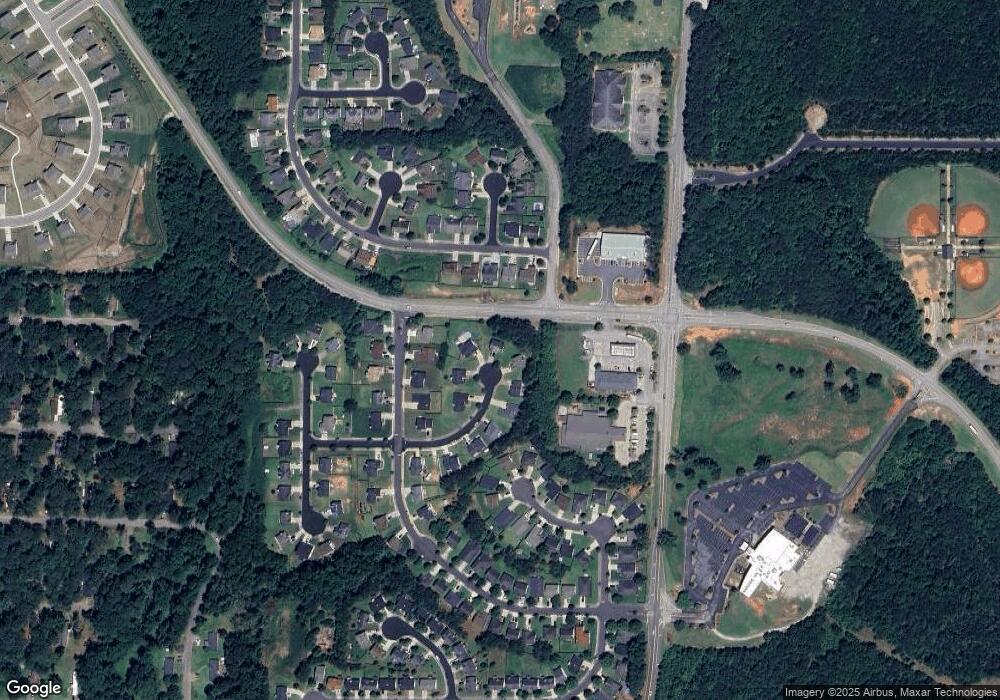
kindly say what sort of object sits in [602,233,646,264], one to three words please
building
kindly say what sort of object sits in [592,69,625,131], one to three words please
building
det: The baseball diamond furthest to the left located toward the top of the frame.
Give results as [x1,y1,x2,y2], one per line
[869,165,939,238]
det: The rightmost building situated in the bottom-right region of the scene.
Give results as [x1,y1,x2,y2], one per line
[739,529,803,597]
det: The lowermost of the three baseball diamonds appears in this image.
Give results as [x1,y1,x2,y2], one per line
[956,259,1000,318]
